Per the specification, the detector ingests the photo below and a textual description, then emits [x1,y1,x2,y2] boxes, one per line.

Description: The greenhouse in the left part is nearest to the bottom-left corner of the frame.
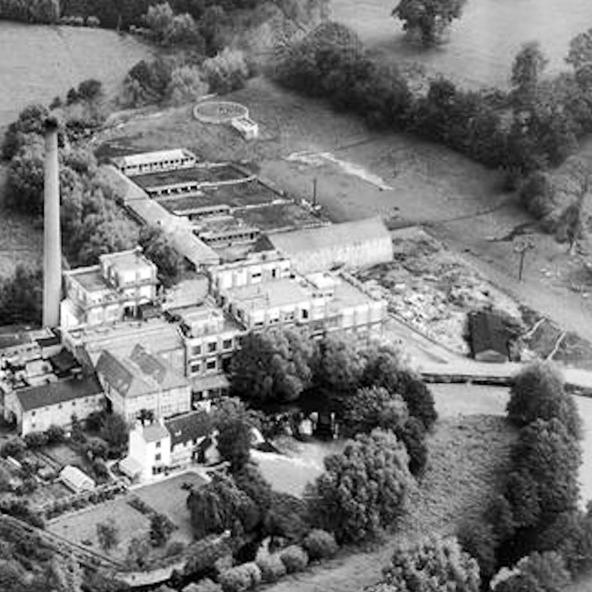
[62,464,99,496]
